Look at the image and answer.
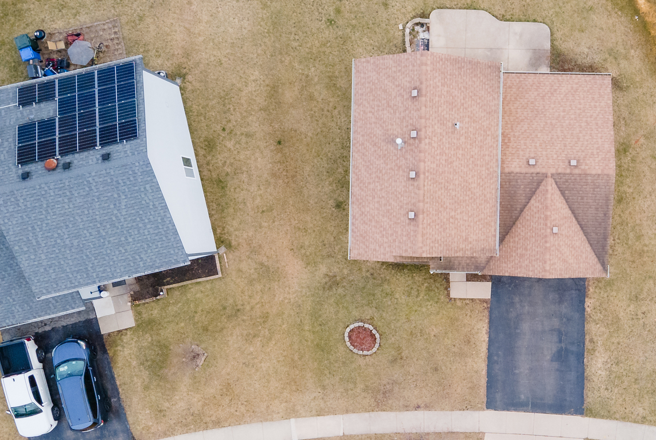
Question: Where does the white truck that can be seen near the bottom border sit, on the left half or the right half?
left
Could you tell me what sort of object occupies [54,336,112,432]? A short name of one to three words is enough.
car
